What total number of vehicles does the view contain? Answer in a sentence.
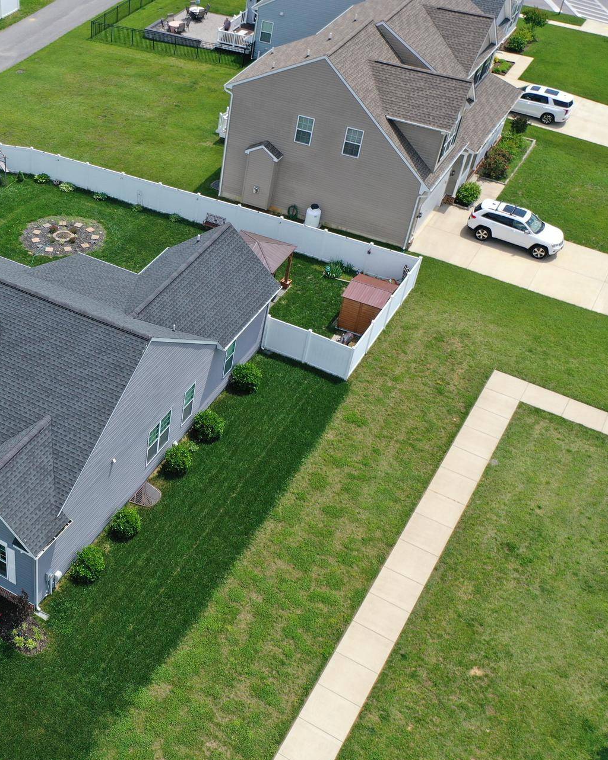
The photo contains 2 vehicles.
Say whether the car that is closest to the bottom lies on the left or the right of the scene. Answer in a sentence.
The car that is closest to the bottom sits on the right side.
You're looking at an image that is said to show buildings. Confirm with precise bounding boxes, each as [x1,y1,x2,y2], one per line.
[0,221,285,617]
[218,0,537,253]
[335,276,395,337]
